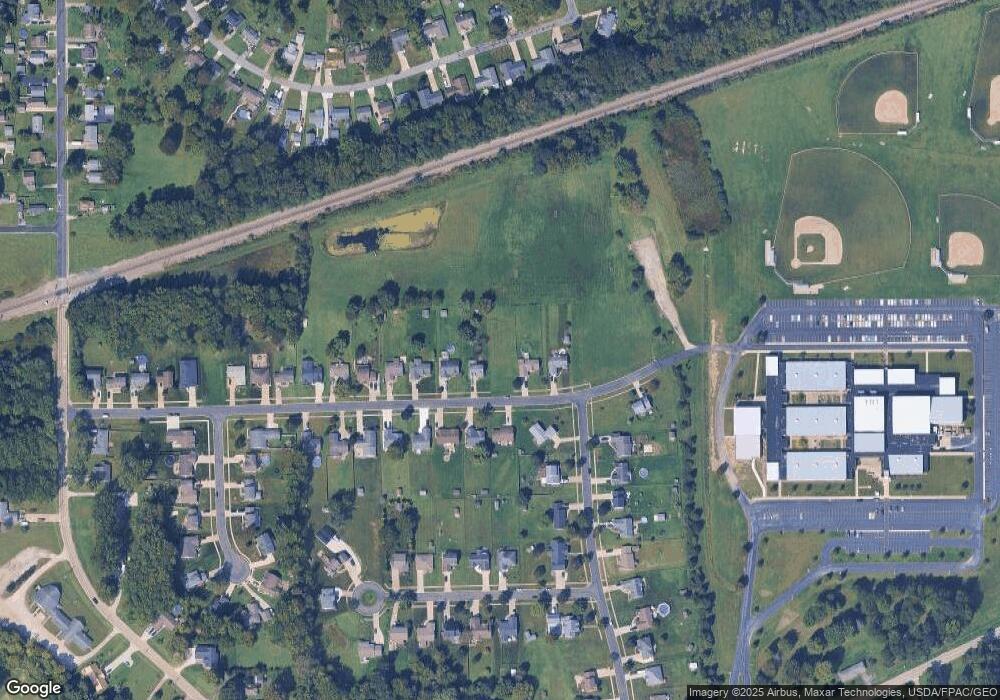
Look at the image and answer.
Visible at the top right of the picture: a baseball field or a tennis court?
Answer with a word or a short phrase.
baseball field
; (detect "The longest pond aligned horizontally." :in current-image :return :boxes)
[324,201,448,259]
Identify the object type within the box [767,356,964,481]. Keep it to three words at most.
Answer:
building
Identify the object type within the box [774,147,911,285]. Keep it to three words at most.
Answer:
baseball field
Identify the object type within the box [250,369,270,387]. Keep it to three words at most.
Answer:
house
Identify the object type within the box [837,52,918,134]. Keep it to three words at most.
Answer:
baseball field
